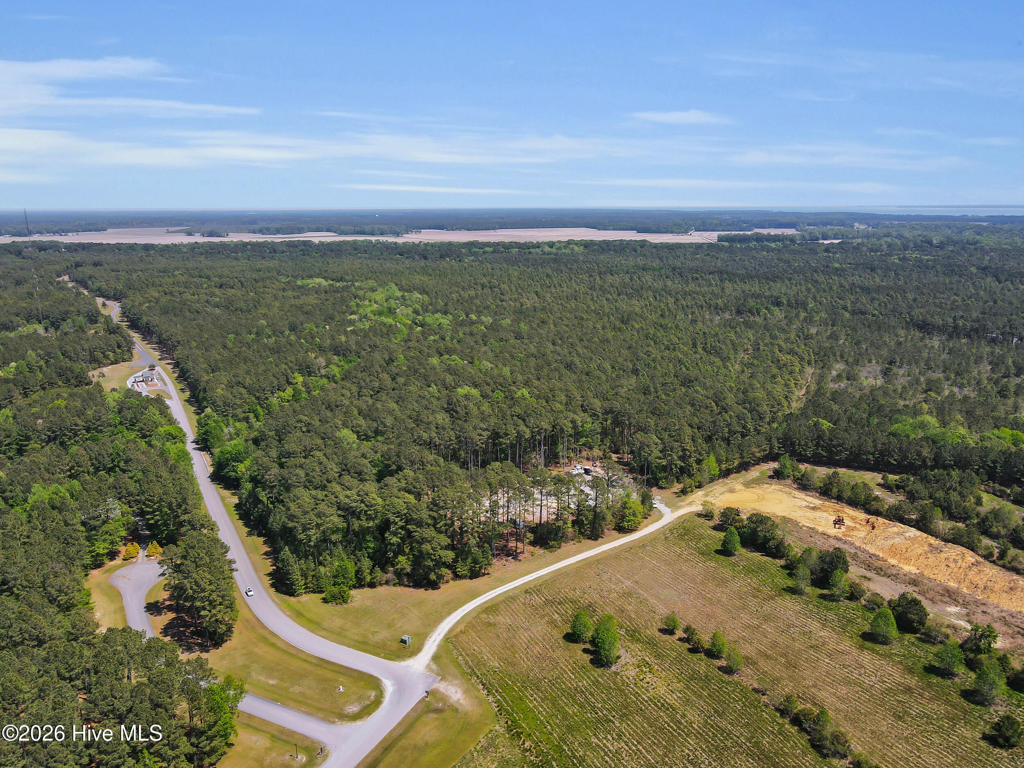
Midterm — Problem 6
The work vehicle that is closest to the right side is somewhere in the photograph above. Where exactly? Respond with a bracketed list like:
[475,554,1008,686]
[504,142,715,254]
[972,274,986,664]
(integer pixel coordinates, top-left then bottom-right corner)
[832,516,847,530]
